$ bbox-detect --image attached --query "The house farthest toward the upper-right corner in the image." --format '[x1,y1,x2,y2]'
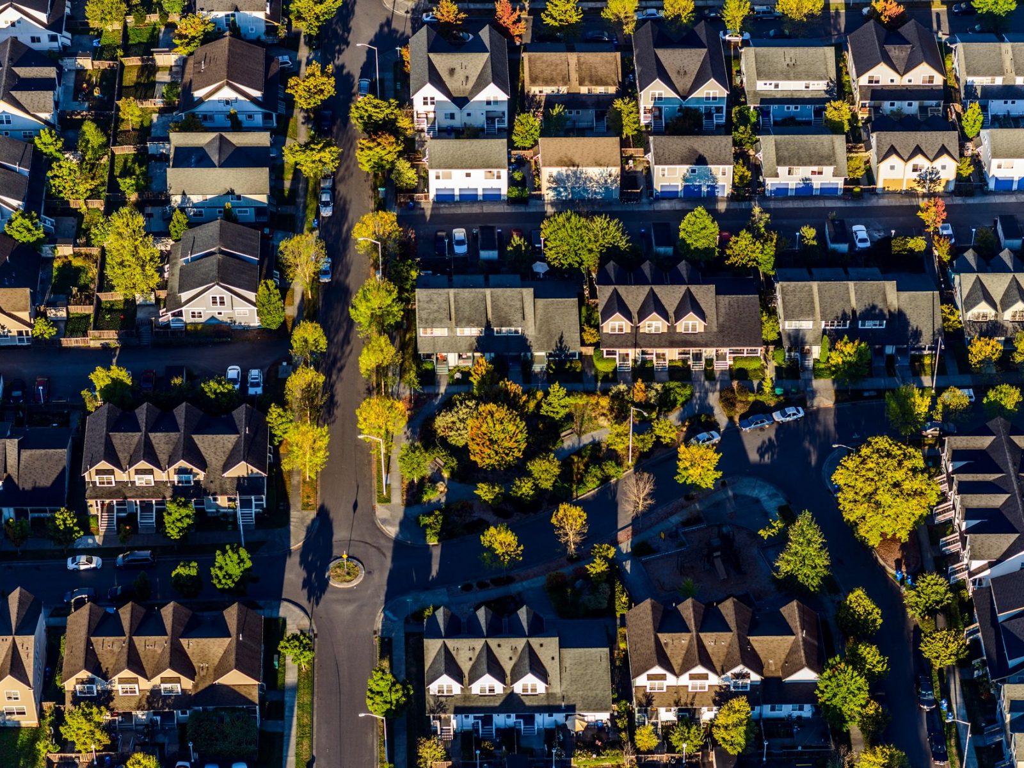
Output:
[948,33,1024,123]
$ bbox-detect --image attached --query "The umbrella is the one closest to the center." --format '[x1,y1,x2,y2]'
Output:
[532,262,549,281]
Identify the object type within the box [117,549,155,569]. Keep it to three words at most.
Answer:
vehicle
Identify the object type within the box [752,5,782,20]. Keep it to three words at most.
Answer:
car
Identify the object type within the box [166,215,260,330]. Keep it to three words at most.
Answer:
house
